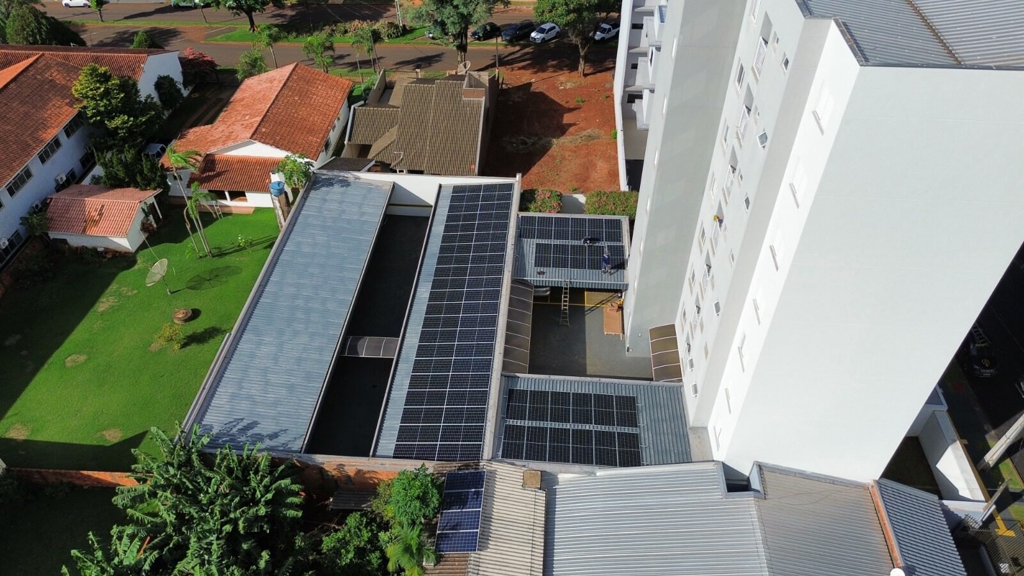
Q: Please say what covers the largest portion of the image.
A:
buildings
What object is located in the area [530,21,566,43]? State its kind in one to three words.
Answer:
car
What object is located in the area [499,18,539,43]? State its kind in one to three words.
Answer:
car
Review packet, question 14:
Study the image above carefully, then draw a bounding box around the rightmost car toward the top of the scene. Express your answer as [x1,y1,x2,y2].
[591,22,622,44]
